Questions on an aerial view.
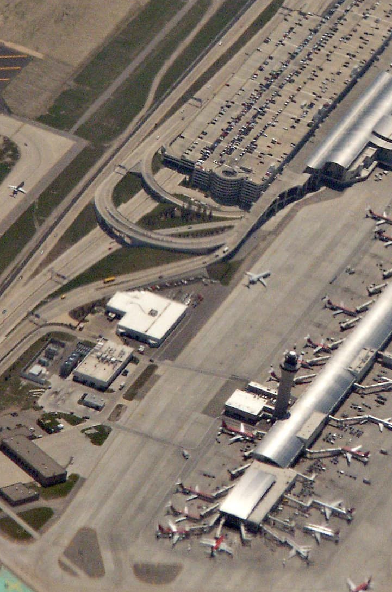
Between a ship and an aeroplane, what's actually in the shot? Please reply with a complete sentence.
This aerial view contains an aeroplane.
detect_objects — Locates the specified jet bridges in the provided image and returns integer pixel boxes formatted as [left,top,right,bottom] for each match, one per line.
[227,463,251,476]
[325,341,337,349]
[240,449,251,458]
[185,518,218,534]
[208,483,235,499]
[240,527,255,546]
[304,356,324,366]
[214,520,223,540]
[336,317,355,330]
[197,503,219,518]
[261,524,288,545]
[355,379,392,393]
[269,515,299,530]
[304,445,346,456]
[352,302,367,313]
[289,468,320,484]
[329,413,373,424]
[284,494,317,509]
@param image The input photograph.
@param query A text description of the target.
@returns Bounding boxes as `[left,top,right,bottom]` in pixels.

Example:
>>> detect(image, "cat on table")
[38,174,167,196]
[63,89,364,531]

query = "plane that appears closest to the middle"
[244,273,270,286]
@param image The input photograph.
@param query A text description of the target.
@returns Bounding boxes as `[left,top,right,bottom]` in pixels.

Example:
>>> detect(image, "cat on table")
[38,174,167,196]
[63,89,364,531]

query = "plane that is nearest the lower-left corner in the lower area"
[154,521,190,540]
